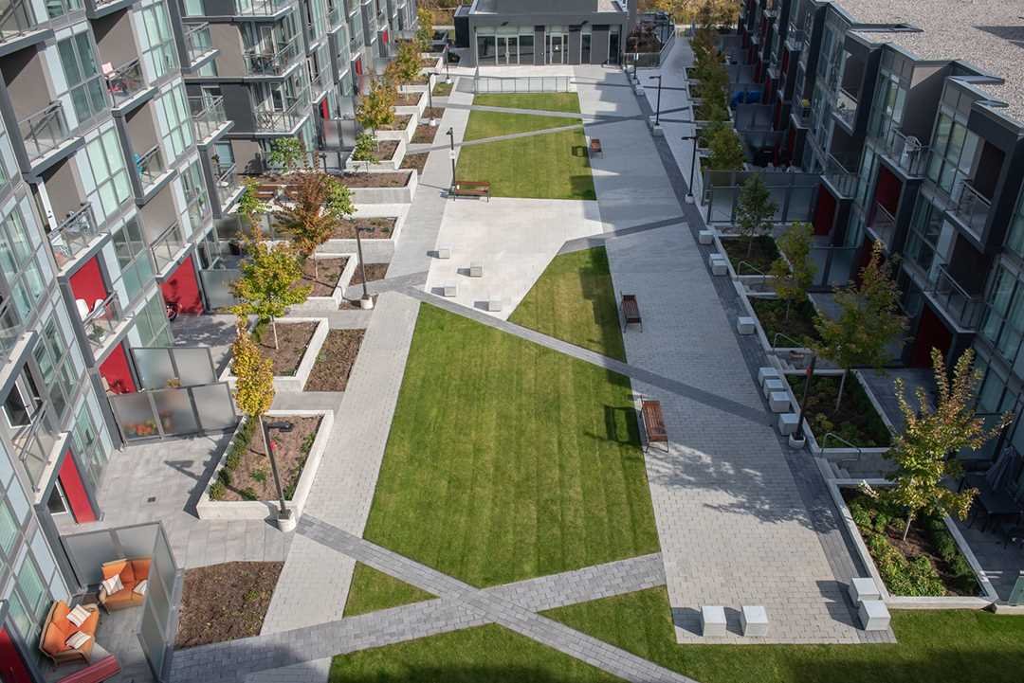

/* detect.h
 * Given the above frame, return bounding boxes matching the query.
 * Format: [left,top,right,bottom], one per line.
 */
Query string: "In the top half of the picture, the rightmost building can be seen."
[730,0,1024,469]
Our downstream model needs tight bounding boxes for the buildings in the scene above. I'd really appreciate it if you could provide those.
[730,0,1024,469]
[0,0,248,683]
[464,0,641,66]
